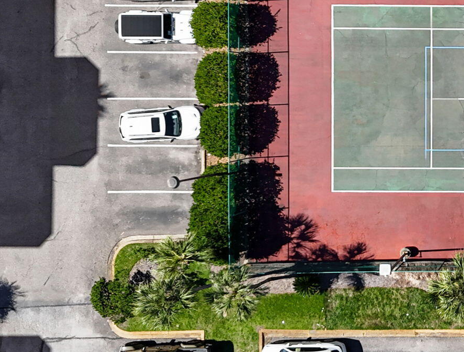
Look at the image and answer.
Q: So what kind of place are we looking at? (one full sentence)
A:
This image shows a sports ground.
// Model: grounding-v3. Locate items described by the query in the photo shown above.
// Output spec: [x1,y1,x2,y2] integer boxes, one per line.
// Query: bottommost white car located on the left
[119,102,204,144]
